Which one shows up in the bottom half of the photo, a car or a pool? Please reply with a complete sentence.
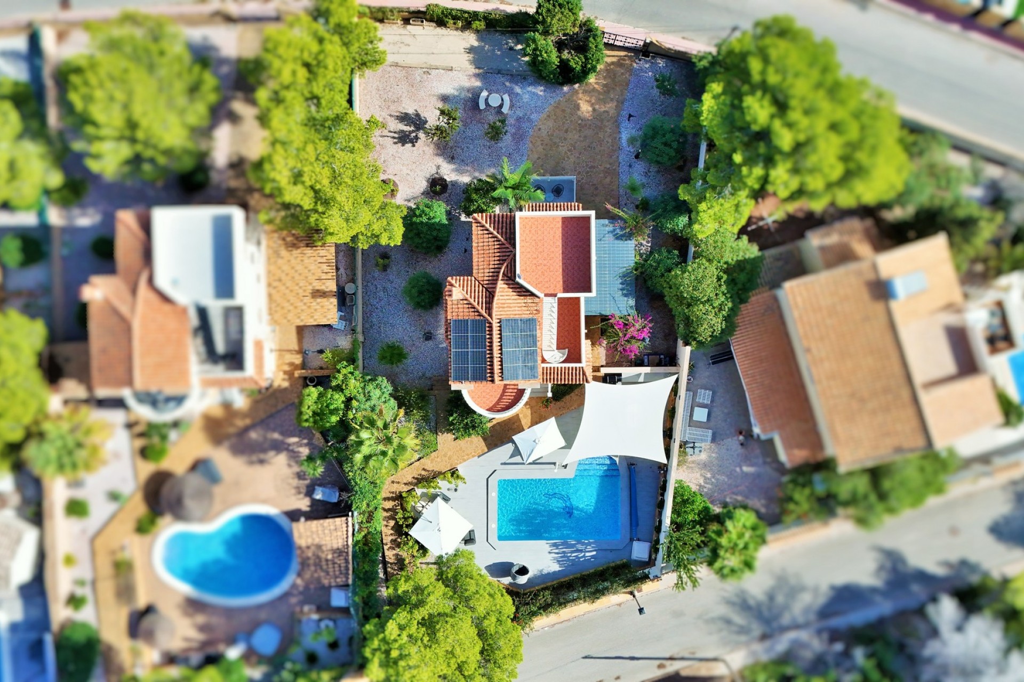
What appears in the bottom half of the photo is a pool.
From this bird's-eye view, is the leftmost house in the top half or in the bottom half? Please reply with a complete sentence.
It is in the bottom half that the leftmost house appears.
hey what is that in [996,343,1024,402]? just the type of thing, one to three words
swimming pool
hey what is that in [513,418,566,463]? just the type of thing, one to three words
umbrella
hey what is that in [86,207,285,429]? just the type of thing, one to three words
house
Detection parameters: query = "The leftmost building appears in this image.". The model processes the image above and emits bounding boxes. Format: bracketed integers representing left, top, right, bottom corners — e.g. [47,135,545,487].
[0,465,72,622]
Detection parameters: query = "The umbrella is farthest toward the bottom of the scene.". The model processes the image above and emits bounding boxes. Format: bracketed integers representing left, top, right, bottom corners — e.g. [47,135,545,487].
[134,602,181,650]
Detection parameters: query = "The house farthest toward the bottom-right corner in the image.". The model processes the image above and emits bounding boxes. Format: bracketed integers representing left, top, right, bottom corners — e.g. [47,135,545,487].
[731,215,1005,471]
